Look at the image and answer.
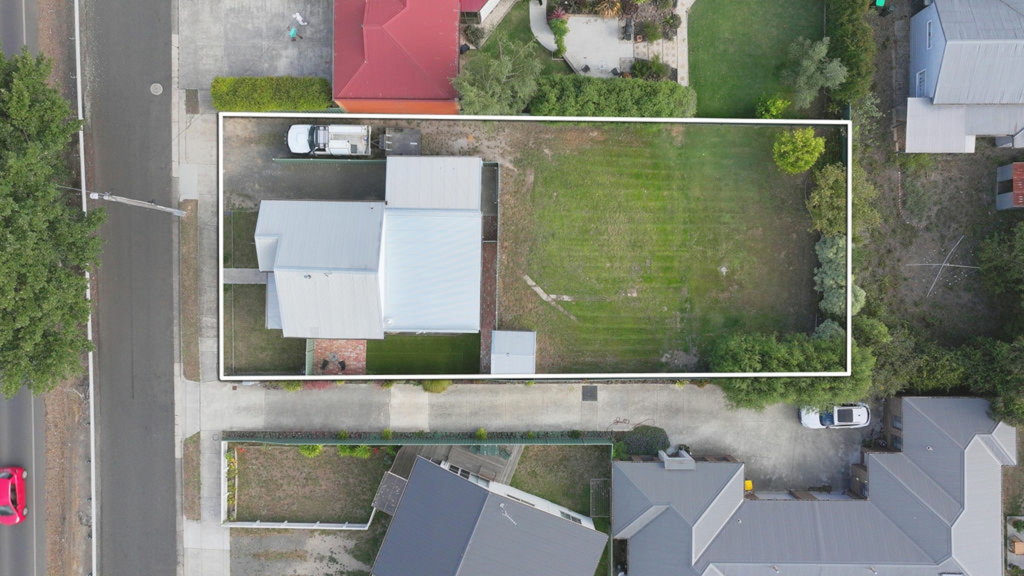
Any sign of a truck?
Yes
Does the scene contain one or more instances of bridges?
No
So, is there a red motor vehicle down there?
Yes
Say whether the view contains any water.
No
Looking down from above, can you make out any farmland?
No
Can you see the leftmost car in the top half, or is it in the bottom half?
bottom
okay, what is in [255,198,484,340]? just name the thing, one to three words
house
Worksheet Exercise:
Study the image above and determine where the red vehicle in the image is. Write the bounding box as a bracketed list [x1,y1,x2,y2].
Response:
[0,468,29,528]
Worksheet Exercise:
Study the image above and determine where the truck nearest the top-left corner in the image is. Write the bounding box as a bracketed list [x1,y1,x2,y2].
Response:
[287,120,369,156]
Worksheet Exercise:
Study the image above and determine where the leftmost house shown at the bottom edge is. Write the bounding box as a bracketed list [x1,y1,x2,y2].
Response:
[365,450,610,576]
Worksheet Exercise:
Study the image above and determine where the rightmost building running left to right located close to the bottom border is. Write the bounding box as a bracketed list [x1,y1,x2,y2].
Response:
[610,393,1018,576]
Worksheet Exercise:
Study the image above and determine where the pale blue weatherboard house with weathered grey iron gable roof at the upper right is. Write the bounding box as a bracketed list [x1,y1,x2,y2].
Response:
[897,0,1024,154]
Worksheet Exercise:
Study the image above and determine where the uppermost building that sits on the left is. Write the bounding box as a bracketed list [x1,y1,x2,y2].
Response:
[332,0,463,114]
